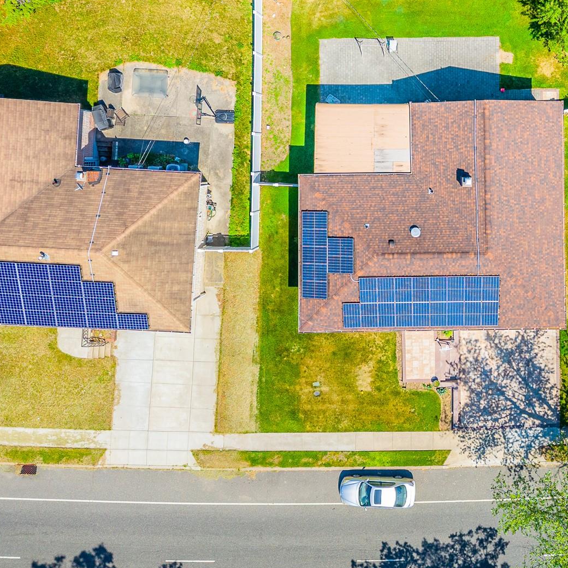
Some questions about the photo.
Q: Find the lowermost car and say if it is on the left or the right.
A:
right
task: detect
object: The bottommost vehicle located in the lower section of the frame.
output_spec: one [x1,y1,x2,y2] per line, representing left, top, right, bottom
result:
[340,471,416,511]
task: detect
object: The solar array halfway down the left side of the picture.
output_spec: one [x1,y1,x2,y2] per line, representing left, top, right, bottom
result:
[0,262,150,329]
